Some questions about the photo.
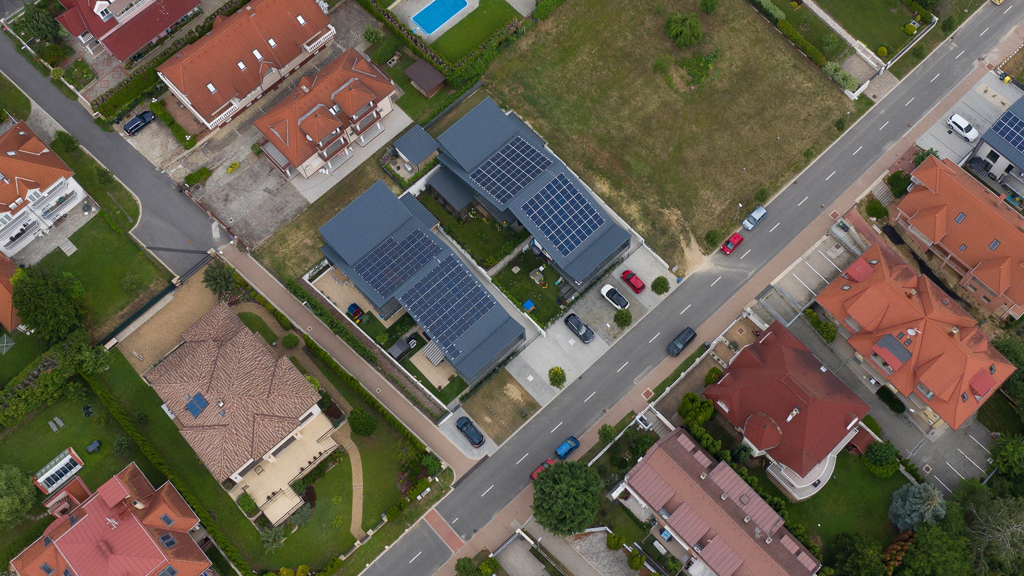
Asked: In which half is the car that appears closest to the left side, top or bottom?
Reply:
top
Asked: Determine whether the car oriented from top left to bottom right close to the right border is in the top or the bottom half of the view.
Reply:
top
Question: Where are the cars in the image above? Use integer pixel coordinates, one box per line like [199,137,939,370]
[599,284,632,310]
[741,204,770,232]
[454,416,487,450]
[719,230,747,257]
[562,310,597,344]
[944,112,978,142]
[122,112,156,135]
[665,324,700,357]
[552,435,581,462]
[619,269,649,296]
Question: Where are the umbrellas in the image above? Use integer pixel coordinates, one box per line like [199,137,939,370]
[529,245,544,258]
[969,154,989,173]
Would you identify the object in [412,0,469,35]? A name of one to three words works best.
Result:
swimming pool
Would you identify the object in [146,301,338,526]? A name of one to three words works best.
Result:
house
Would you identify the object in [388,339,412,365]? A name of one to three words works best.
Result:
shed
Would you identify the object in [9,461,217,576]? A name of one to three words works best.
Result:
house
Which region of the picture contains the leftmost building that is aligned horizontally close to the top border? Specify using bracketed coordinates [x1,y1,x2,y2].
[56,0,203,65]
